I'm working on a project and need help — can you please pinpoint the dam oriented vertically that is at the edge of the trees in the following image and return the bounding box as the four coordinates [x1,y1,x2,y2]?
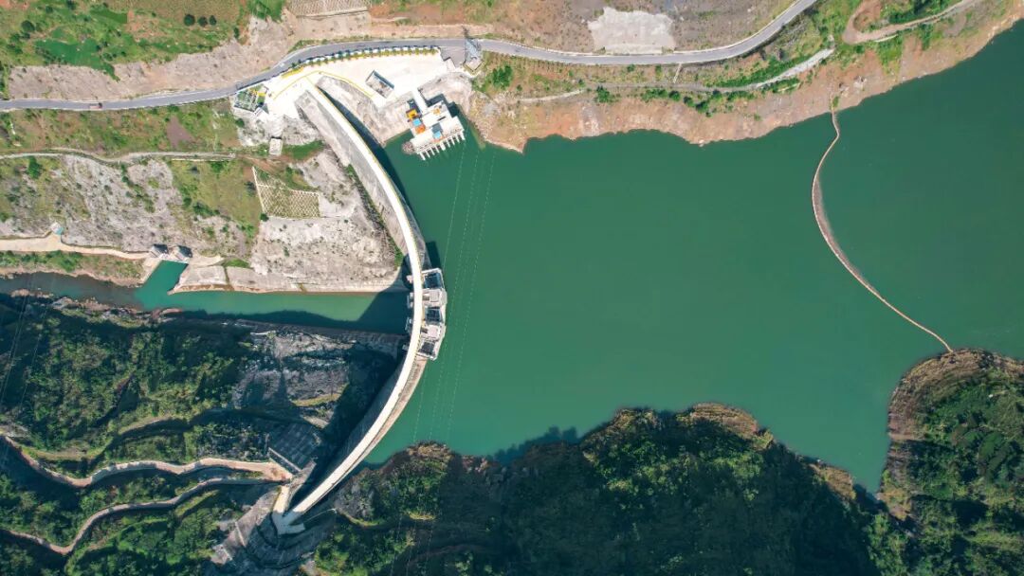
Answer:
[281,65,449,527]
